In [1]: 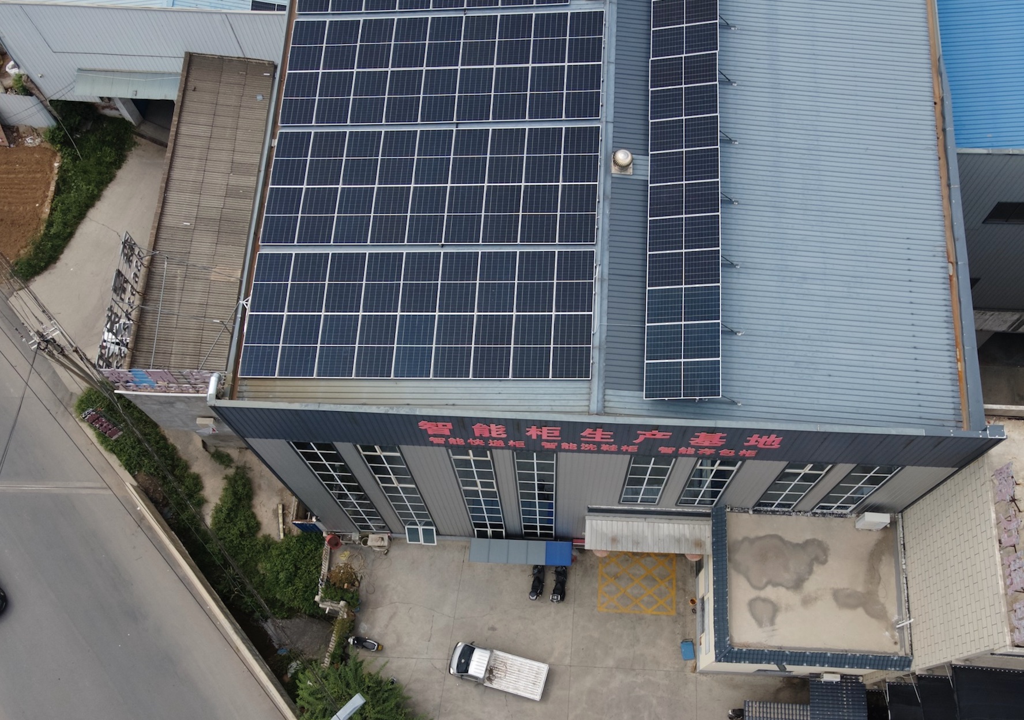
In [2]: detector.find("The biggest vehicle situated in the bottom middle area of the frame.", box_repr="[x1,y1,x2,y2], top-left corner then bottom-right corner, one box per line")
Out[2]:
[447,637,550,703]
